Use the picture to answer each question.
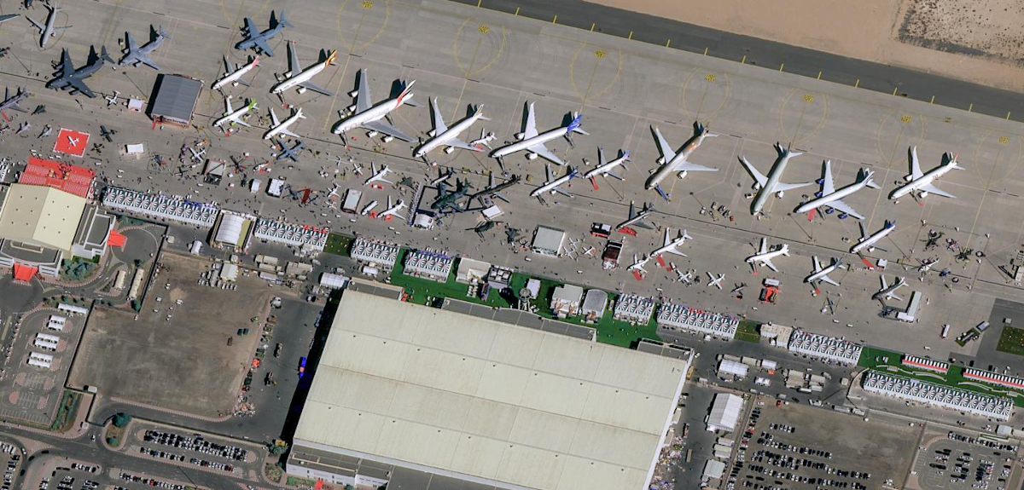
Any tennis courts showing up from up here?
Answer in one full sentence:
No, no tennis court is visible in the scene.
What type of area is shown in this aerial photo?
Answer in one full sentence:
This image shows an airport.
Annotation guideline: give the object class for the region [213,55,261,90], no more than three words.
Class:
airplane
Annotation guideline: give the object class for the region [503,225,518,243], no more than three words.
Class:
airplane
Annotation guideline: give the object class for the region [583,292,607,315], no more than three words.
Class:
tent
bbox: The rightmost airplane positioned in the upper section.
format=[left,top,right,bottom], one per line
[890,147,961,199]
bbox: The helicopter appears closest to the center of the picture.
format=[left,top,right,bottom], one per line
[470,216,501,235]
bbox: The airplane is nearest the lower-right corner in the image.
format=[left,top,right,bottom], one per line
[873,275,908,303]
